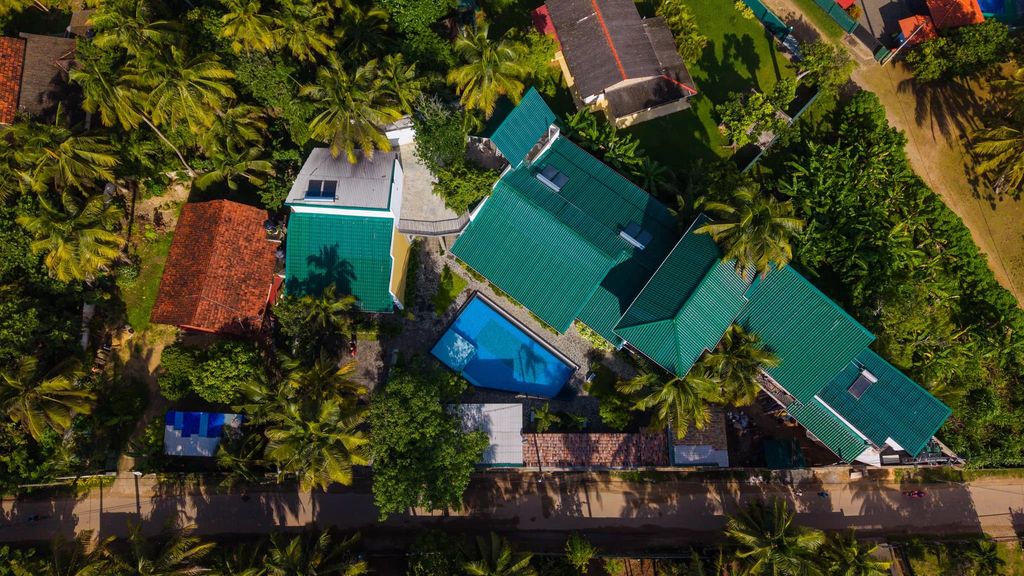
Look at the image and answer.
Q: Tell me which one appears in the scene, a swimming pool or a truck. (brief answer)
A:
swimming pool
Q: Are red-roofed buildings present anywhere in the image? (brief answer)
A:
Yes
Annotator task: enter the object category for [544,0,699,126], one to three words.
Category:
house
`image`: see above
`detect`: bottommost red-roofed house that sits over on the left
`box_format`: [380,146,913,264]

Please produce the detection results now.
[150,199,281,335]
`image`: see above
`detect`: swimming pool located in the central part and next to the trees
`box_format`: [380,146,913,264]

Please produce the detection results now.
[423,288,586,403]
